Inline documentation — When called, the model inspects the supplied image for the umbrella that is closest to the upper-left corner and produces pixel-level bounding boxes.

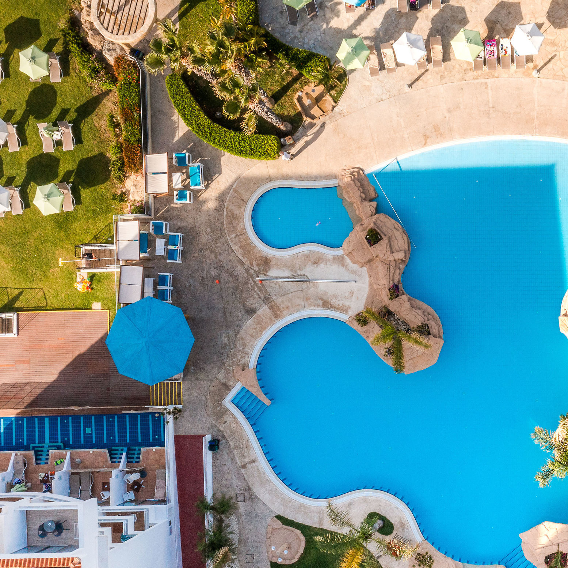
[20,47,52,80]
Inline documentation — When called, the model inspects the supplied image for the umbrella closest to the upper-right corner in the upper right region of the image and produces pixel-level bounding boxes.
[511,24,544,57]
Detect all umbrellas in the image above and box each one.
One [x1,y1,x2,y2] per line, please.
[511,24,544,57]
[35,184,66,216]
[105,296,196,385]
[451,29,482,62]
[283,0,312,10]
[394,34,425,67]
[0,118,10,147]
[20,47,52,80]
[0,187,13,215]
[338,38,369,71]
